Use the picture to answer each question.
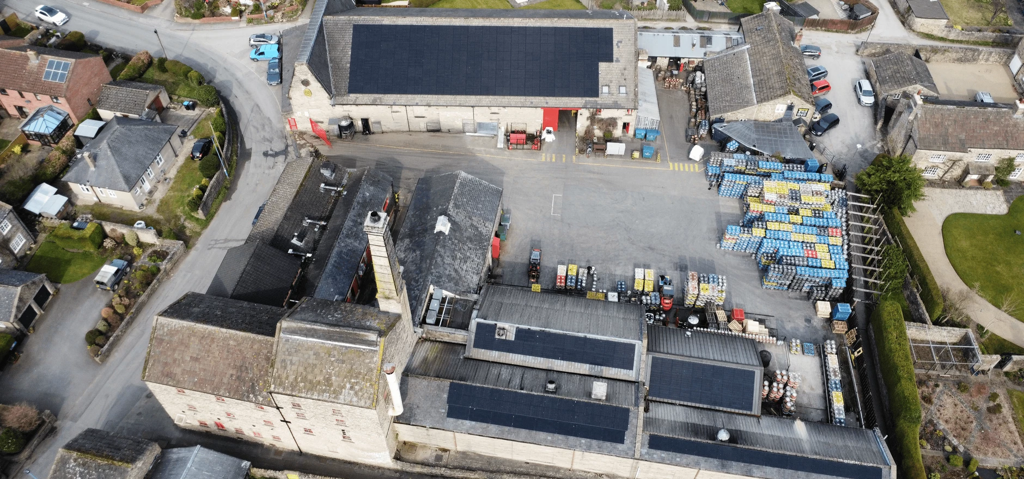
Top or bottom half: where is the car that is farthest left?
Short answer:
top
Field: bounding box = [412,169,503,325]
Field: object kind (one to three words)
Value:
building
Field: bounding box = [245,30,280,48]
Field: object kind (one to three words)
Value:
car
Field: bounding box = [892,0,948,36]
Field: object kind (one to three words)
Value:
barn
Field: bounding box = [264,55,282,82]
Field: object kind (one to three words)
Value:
car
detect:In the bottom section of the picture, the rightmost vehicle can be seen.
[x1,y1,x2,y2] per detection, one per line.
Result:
[658,279,677,315]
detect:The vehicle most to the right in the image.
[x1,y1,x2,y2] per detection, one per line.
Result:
[967,83,1004,101]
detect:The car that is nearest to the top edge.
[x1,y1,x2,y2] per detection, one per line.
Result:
[31,3,66,25]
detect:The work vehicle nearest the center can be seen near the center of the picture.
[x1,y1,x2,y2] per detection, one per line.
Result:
[529,247,541,282]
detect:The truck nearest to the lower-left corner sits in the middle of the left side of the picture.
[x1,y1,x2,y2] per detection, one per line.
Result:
[87,254,131,293]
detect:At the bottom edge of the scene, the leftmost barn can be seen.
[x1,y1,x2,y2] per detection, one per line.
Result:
[51,428,166,479]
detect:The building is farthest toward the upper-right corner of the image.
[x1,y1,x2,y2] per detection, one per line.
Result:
[990,16,1024,94]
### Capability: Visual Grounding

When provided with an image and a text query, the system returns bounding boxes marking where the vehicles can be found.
[811,96,840,116]
[587,142,593,157]
[87,254,131,293]
[247,43,282,63]
[245,30,280,48]
[189,135,211,161]
[31,3,66,25]
[812,110,845,136]
[854,75,877,106]
[658,279,677,315]
[967,83,1004,101]
[529,247,541,282]
[810,80,838,100]
[806,65,836,85]
[264,55,282,82]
